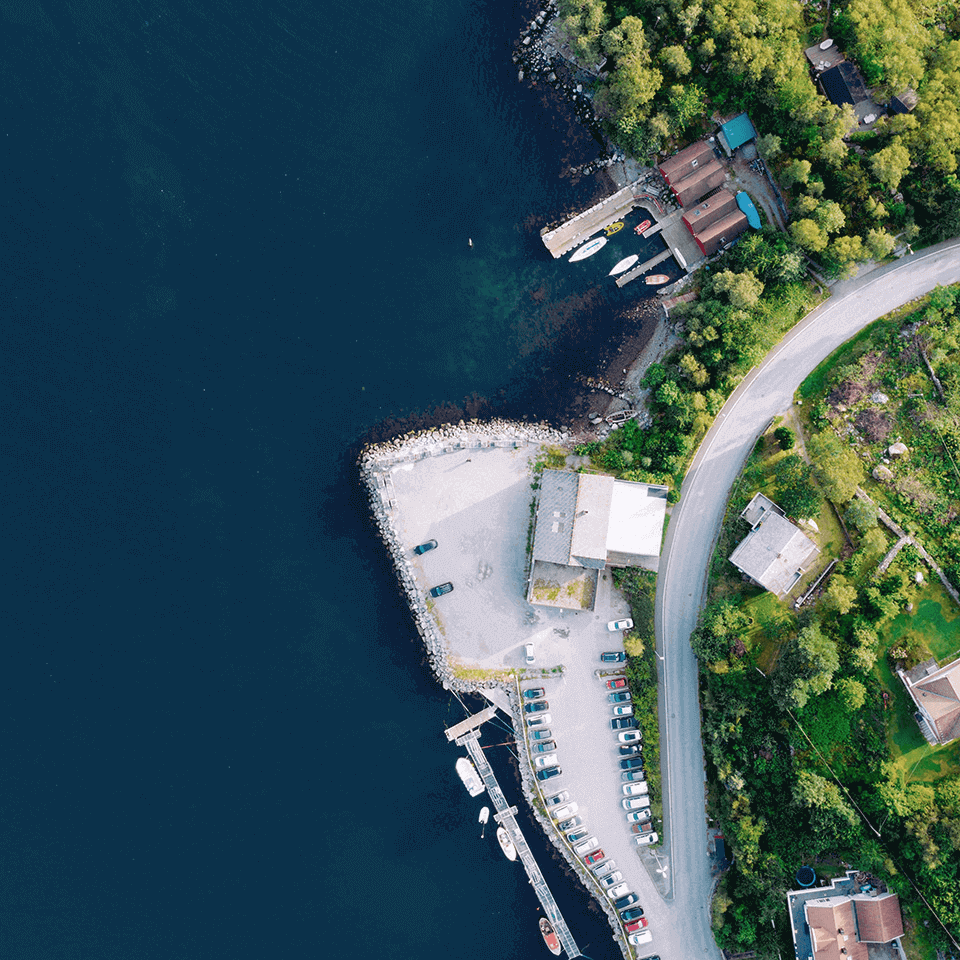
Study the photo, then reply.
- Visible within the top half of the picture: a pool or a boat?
boat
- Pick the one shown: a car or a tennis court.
car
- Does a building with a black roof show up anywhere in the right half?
Yes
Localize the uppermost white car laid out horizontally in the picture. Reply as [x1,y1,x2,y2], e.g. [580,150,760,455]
[609,619,634,631]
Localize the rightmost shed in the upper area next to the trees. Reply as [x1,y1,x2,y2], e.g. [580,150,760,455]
[886,86,917,116]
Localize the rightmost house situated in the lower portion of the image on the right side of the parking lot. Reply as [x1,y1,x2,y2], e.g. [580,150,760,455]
[899,654,960,744]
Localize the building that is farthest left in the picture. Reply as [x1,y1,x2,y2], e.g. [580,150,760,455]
[532,470,614,569]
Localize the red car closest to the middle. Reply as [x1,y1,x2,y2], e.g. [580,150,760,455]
[606,678,629,691]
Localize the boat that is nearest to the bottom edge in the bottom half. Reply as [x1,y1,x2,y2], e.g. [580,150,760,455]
[536,916,560,958]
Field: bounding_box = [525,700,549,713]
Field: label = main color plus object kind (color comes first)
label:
blue vehicle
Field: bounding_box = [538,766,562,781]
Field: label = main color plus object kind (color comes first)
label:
blue car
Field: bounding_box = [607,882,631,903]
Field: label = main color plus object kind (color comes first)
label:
white vehicle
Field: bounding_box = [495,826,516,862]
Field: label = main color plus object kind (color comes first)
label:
white boat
